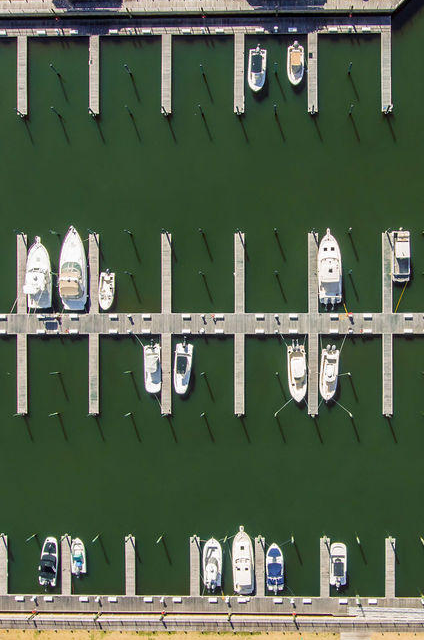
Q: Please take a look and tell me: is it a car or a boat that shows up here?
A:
boat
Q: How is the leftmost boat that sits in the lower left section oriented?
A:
up and down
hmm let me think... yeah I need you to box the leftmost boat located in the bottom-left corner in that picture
[39,537,59,595]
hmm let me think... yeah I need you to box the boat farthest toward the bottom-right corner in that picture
[330,543,347,589]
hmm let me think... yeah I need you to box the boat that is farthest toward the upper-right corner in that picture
[287,43,304,85]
